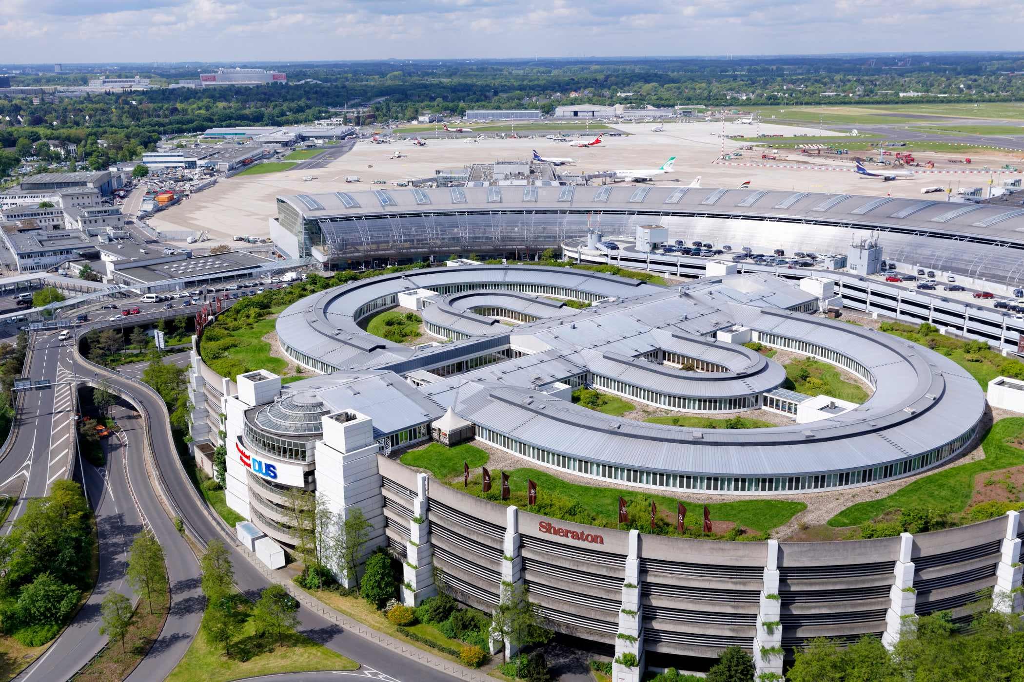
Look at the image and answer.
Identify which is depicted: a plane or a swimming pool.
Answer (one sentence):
There is a plane in the scene.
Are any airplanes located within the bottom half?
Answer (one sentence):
No, there's no airplane to be seen within the bottom half.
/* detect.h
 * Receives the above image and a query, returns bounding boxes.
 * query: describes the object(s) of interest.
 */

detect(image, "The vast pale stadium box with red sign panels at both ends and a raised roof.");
[199,68,301,87]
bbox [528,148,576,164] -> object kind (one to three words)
airplane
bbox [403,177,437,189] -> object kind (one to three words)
jet bridge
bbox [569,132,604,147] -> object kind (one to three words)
airplane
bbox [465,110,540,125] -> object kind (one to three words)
hangar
